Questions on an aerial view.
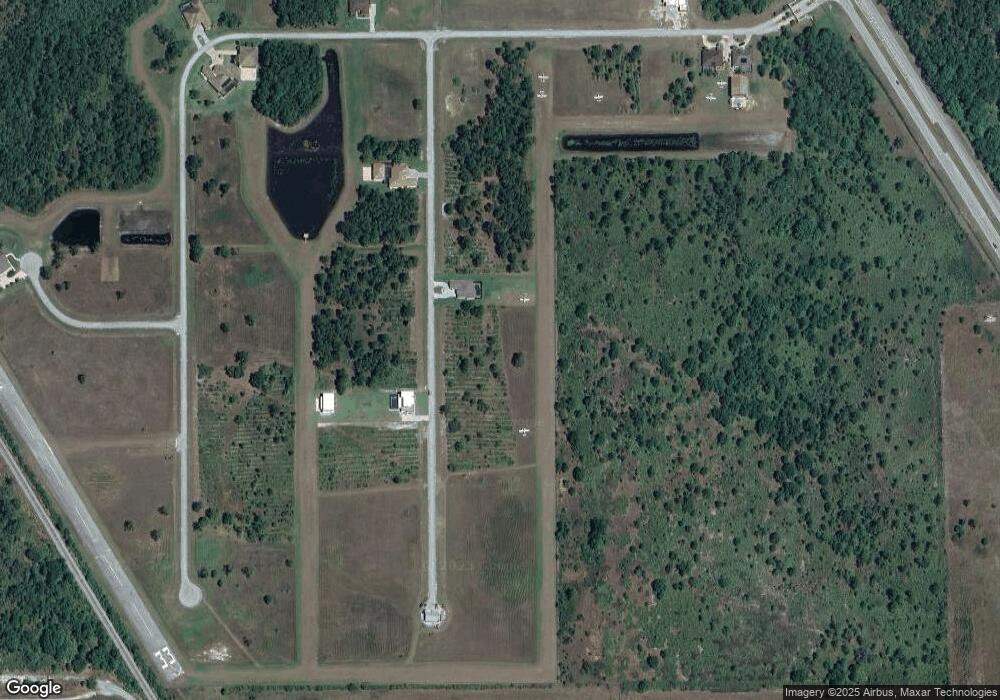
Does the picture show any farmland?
Yes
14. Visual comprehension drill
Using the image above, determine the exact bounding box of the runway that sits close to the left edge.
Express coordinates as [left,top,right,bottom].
[0,368,185,681]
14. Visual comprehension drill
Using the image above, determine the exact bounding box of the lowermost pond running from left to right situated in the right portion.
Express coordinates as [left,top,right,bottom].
[562,134,699,151]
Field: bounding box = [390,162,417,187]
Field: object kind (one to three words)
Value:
house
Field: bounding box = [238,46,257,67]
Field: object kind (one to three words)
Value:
hangar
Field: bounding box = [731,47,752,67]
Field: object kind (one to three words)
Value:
house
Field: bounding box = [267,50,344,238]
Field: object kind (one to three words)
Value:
pond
